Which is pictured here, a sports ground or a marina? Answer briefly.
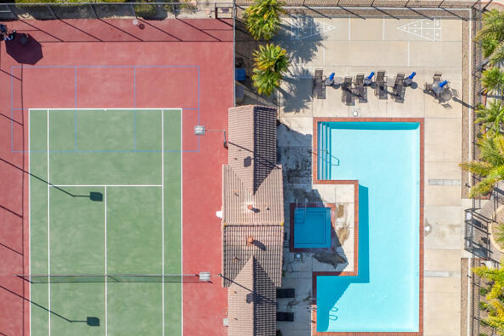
sports ground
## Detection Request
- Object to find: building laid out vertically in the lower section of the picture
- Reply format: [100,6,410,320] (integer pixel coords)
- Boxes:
[218,102,287,336]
